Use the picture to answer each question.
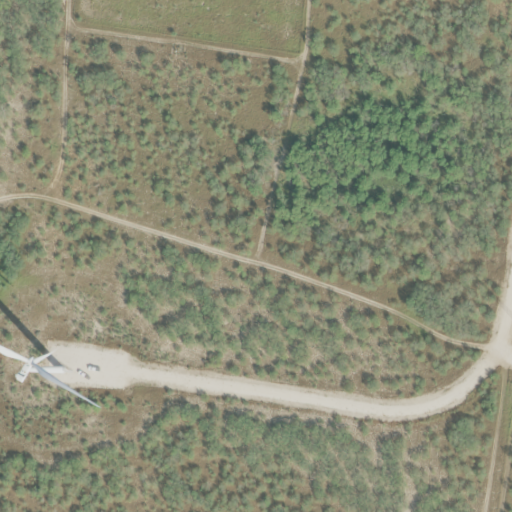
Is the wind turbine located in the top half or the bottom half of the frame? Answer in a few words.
bottom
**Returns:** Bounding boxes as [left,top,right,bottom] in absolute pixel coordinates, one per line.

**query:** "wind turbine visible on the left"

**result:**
[0,346,95,408]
